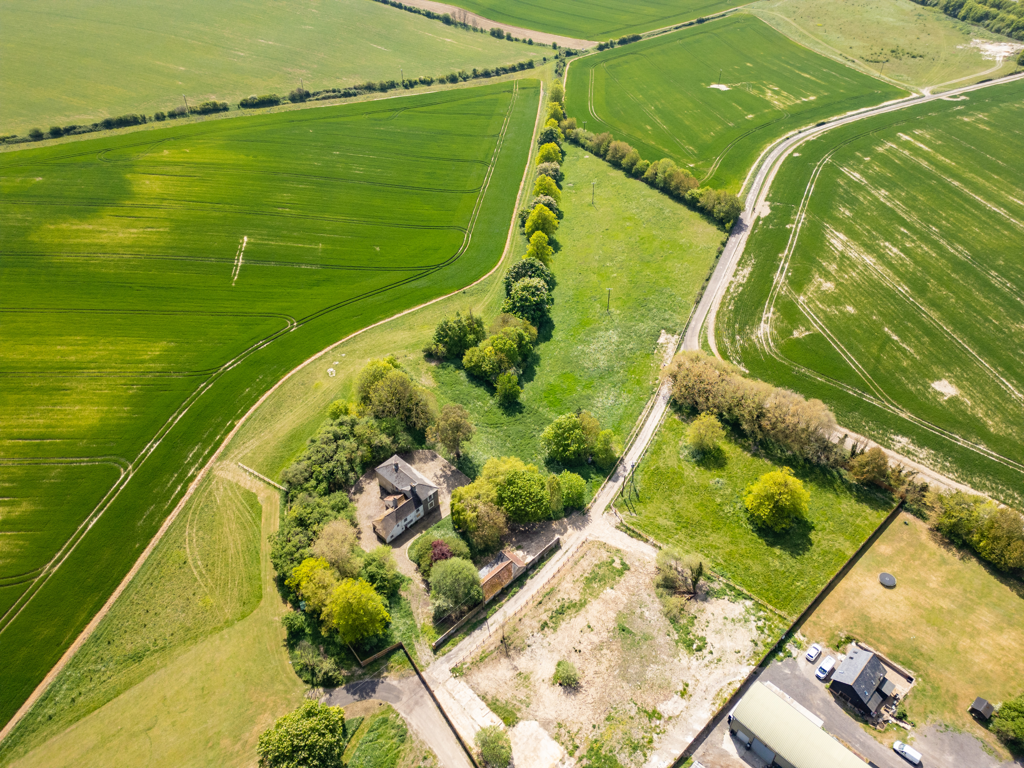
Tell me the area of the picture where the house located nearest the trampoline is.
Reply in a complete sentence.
The house located nearest the trampoline is located in the bottom right region of the scene.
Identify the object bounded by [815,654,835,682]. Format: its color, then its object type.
white vehicle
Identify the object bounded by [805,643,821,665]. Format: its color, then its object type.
white car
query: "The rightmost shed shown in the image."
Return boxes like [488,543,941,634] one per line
[967,695,995,722]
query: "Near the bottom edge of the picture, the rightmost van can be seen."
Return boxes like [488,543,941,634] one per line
[890,739,926,768]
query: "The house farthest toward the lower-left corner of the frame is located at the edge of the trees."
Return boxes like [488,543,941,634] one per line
[370,453,444,543]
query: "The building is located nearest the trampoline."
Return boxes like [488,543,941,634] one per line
[827,647,897,717]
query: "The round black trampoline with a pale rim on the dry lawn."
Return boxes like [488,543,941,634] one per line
[877,573,897,590]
